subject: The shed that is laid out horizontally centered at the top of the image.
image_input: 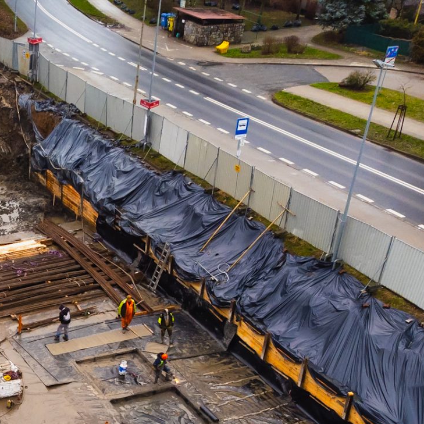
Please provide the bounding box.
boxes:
[159,0,255,46]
